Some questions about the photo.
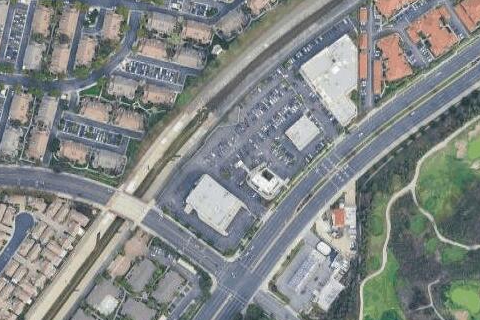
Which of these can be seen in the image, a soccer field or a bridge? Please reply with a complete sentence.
This aerial view contains a bridge.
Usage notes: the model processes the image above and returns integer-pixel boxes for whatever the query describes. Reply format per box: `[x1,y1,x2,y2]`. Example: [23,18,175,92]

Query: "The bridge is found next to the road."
[106,186,154,226]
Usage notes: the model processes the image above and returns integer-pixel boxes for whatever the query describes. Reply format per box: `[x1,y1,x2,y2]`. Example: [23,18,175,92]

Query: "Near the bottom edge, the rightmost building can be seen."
[317,282,348,314]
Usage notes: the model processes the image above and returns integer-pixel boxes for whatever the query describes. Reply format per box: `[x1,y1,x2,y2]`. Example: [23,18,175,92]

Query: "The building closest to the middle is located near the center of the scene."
[252,168,282,198]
